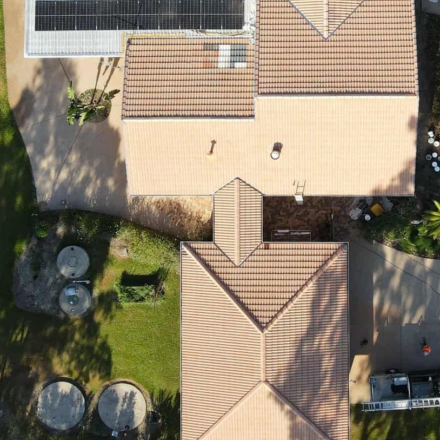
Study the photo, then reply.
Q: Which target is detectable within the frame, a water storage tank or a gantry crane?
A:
water storage tank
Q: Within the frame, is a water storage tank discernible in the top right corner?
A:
No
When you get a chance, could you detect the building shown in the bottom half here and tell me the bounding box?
[177,239,351,440]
